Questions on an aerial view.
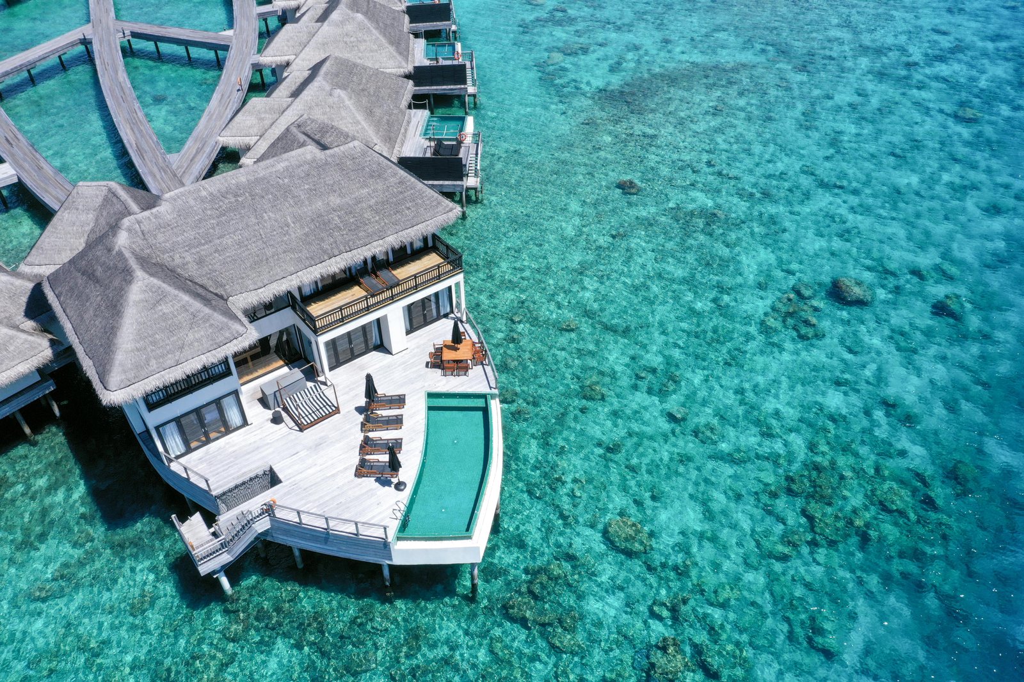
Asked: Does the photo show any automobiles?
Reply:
No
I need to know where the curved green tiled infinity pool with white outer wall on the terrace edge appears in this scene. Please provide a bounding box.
[392,391,504,604]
